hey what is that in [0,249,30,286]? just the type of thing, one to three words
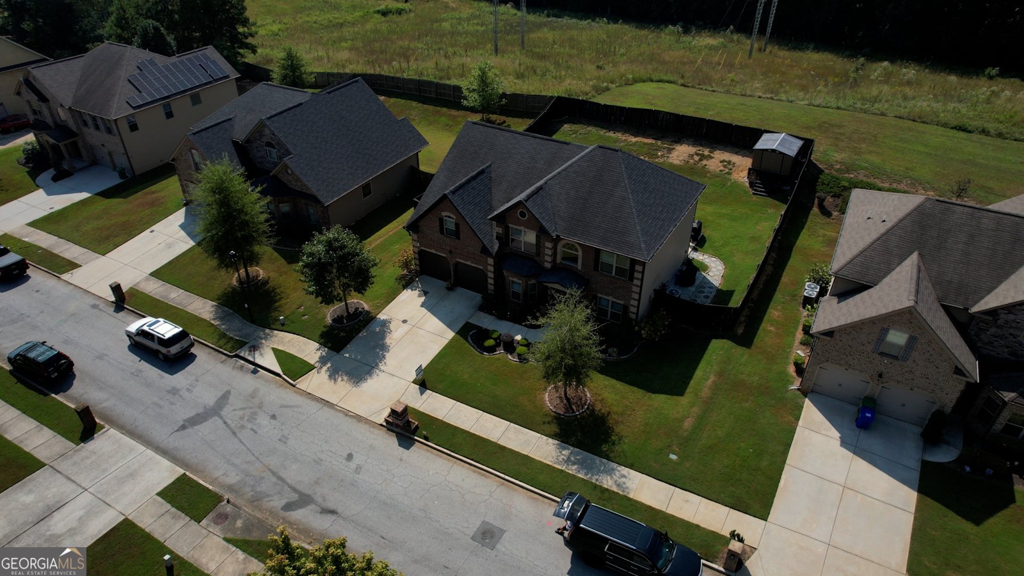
truck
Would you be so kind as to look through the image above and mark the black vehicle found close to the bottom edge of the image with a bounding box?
[556,490,703,576]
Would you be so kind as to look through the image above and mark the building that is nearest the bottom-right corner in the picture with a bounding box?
[790,181,1024,448]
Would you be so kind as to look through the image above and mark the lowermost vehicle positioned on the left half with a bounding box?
[5,339,77,387]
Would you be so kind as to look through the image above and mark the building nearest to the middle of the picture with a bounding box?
[402,120,710,329]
